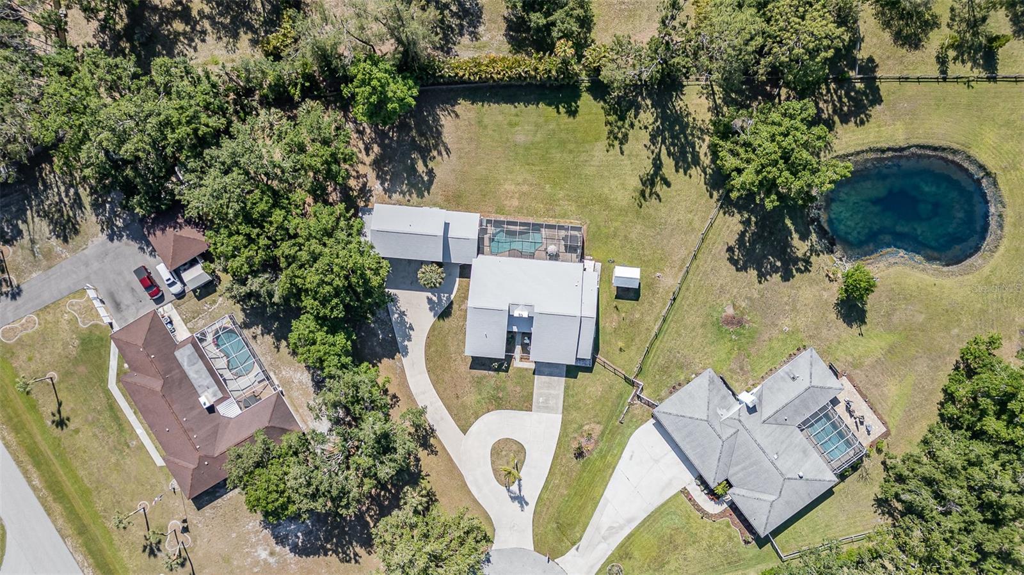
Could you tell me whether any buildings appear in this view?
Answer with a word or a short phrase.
Yes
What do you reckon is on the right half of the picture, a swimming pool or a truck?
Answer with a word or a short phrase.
swimming pool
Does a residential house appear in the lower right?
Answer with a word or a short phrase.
Yes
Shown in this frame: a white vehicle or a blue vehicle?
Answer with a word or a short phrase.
white vehicle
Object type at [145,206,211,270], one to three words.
building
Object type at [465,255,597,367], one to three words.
house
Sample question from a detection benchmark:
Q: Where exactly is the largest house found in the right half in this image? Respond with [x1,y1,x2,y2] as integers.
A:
[652,347,844,537]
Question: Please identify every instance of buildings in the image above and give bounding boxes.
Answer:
[110,309,305,499]
[465,255,597,367]
[145,206,211,270]
[369,204,480,264]
[613,266,642,288]
[652,347,844,537]
[182,264,213,290]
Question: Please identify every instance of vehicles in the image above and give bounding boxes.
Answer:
[154,263,185,296]
[133,264,164,301]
